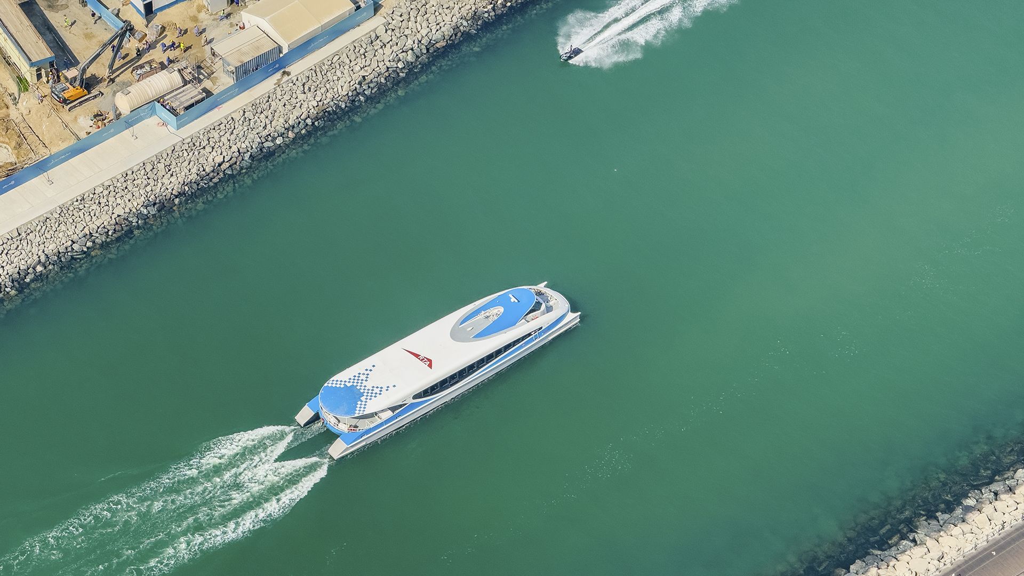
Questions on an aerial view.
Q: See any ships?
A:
Yes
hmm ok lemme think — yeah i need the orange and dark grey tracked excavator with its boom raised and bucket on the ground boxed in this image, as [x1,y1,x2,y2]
[51,16,131,111]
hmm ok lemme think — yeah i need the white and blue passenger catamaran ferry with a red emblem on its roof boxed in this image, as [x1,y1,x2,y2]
[295,280,582,467]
